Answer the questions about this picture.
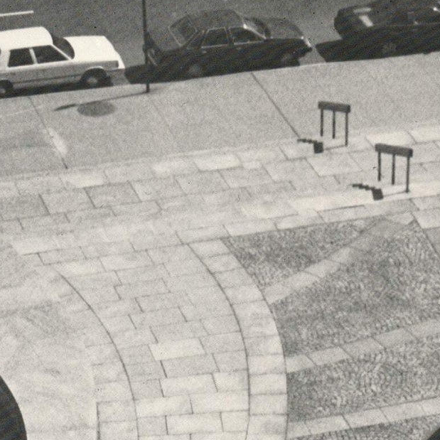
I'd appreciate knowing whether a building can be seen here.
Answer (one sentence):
No, I can't see a single building in this photo.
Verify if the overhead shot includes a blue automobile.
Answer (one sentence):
No, I can see no blue automobile in this picture.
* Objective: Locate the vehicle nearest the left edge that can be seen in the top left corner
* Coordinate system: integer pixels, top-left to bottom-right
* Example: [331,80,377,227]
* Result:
[0,23,127,98]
